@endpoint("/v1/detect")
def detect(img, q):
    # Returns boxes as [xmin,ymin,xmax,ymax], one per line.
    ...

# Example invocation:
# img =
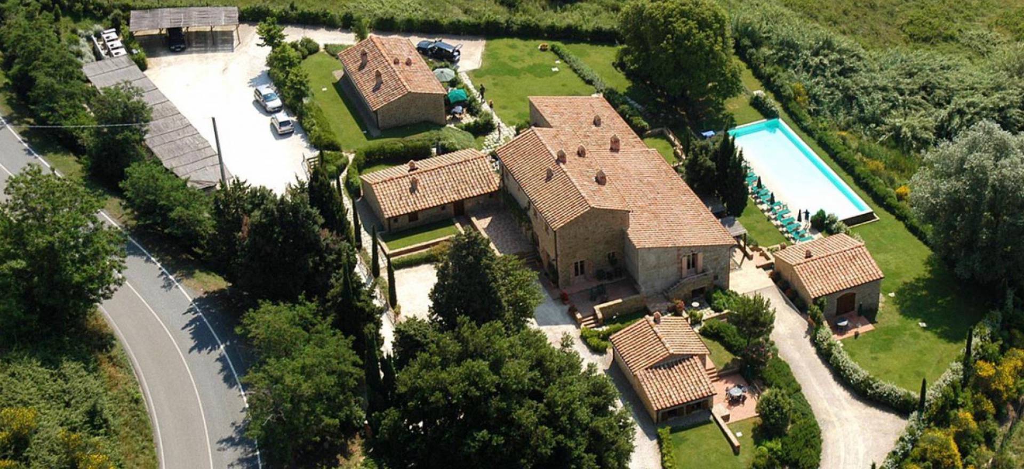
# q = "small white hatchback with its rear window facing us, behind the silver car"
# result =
[271,112,293,131]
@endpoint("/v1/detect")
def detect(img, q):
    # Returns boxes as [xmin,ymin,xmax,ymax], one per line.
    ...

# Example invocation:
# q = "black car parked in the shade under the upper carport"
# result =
[168,28,184,49]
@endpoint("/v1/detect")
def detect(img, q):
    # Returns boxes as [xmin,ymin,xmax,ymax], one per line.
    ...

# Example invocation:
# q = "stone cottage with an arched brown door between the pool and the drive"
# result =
[771,233,883,322]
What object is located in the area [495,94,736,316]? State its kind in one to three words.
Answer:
house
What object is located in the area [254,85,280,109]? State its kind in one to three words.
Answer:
car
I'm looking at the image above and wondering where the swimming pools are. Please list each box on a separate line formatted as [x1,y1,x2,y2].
[730,116,880,234]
